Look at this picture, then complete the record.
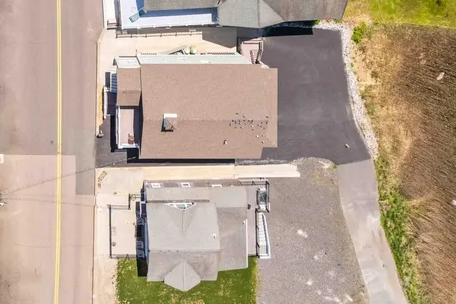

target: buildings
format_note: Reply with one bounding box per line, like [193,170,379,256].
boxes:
[103,40,279,159]
[134,174,272,292]
[119,0,348,30]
